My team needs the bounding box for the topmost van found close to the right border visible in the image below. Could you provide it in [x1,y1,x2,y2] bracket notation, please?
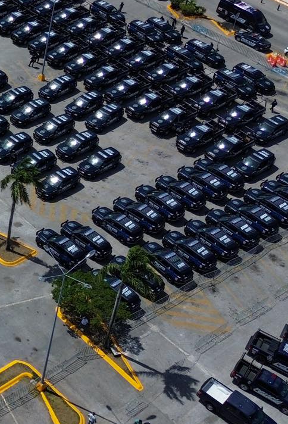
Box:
[214,6,276,46]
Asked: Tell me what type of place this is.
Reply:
parking lot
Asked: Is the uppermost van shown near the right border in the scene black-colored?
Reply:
Yes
